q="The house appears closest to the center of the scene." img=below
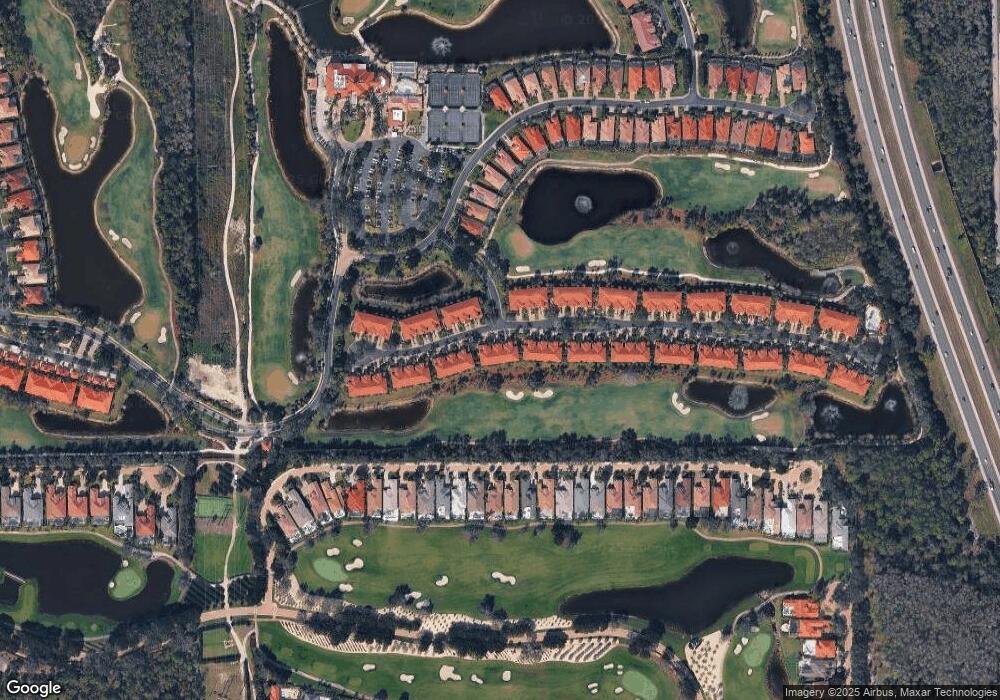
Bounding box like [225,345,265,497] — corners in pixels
[479,342,520,365]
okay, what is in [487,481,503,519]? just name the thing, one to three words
house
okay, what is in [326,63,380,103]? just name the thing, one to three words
building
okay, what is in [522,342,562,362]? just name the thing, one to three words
house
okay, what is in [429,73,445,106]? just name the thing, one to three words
tennis court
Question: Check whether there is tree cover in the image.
Yes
